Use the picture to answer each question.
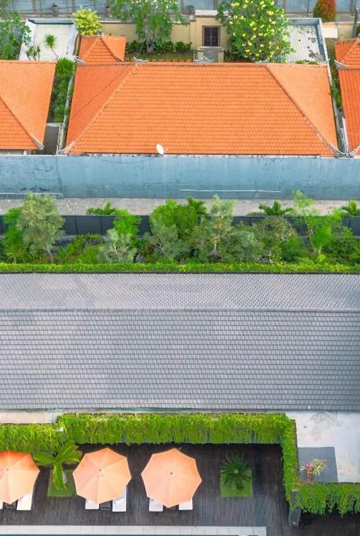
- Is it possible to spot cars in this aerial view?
No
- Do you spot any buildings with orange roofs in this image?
Yes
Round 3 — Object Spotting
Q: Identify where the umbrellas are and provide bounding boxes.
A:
[0,447,41,506]
[140,447,202,506]
[71,447,133,506]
